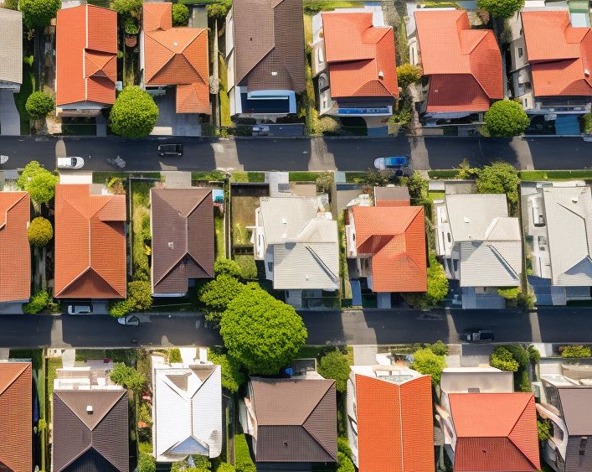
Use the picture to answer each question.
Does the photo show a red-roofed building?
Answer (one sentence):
Yes, the frame does contain a red-roofed building.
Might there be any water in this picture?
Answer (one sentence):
No, no water is visible.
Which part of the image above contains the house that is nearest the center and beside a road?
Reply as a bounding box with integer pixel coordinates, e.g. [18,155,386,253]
[249,196,342,289]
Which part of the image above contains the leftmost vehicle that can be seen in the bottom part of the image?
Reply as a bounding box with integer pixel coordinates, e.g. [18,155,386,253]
[66,301,91,315]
